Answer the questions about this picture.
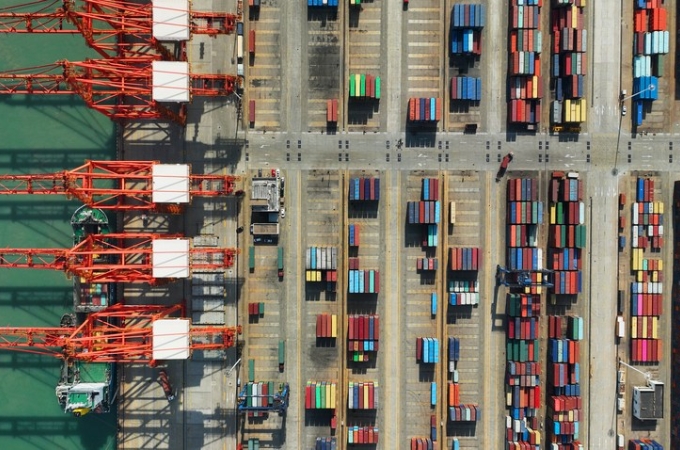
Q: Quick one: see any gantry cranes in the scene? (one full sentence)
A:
Yes, the frame does contain a gantry crane.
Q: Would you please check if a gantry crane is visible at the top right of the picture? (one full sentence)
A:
No, no gantry crane is visible at the top right of the picture.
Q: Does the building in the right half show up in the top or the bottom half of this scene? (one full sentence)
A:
The building in the right half is in the bottom half of the image.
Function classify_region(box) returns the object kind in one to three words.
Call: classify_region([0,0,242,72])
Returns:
container crane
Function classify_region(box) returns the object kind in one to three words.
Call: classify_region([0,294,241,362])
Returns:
container crane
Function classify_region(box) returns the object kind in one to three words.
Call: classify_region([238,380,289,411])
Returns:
crane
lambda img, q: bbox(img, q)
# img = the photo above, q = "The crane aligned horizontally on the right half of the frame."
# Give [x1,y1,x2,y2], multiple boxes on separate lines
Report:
[498,265,554,289]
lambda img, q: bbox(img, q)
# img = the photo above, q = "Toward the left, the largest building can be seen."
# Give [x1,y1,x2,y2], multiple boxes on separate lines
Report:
[252,177,281,212]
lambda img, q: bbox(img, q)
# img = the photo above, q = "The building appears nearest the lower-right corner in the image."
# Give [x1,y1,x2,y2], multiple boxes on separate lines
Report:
[634,380,664,418]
